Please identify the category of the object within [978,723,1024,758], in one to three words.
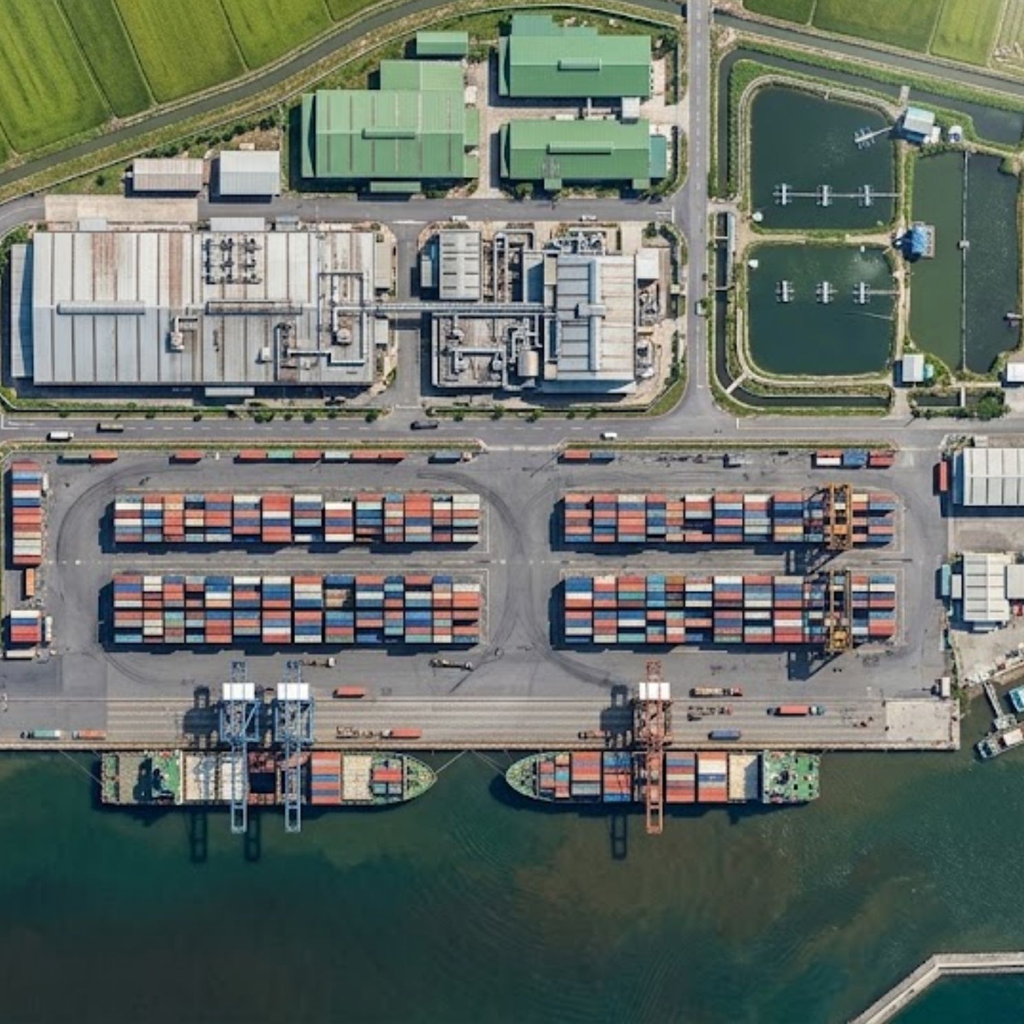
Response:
boat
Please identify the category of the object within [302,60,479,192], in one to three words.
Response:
warehouse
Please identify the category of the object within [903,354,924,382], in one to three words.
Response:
shed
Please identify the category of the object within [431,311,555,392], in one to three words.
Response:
building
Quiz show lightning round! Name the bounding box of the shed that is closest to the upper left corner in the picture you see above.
[128,159,202,190]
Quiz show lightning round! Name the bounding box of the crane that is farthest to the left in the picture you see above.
[216,662,262,834]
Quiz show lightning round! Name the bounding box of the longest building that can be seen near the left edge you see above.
[11,217,390,396]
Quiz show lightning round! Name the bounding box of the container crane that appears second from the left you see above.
[270,662,315,834]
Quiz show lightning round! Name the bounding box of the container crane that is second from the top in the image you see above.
[823,570,856,652]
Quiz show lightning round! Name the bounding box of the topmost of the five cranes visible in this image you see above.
[823,483,856,550]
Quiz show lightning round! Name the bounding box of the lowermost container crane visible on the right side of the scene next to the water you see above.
[632,662,677,834]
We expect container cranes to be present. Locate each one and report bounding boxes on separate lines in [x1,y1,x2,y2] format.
[216,662,262,834]
[823,570,856,652]
[270,662,315,834]
[823,483,856,550]
[632,662,677,834]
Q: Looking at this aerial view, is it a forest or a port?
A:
port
